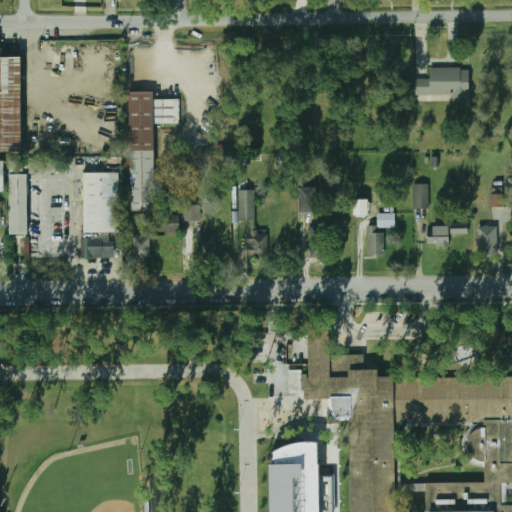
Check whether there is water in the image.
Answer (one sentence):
No, water can't be seen anywhere here.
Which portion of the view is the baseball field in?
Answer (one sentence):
Look in the bottom left portion of the view to spot the baseball field.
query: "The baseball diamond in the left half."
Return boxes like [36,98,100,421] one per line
[16,436,140,512]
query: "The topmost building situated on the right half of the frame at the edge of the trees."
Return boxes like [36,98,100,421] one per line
[417,66,470,101]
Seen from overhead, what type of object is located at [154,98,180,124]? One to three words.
building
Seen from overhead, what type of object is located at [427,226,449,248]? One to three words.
house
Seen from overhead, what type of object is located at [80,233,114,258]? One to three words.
building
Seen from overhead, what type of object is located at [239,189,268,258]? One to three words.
house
